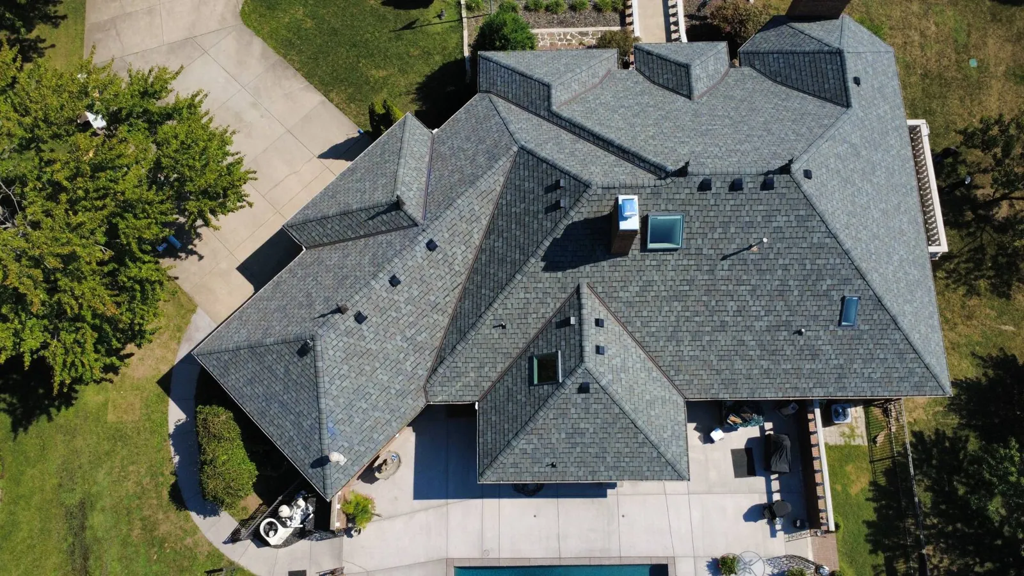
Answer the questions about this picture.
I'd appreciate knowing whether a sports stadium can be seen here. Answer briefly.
No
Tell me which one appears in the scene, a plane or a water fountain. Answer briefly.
water fountain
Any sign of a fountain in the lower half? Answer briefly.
Yes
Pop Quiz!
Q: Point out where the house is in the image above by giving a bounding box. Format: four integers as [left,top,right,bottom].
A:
[193,0,956,503]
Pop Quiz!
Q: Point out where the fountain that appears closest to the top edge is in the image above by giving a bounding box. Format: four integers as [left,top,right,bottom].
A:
[371,452,400,482]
